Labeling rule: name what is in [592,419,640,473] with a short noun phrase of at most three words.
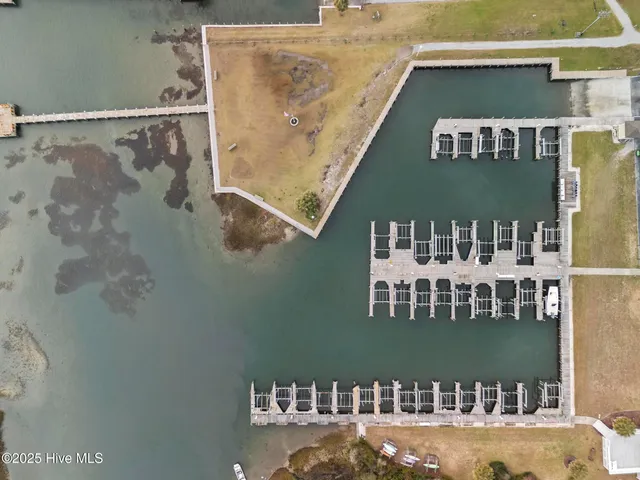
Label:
building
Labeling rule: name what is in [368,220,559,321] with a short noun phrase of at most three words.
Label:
pier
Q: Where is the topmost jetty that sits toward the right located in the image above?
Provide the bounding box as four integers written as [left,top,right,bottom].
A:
[428,116,634,161]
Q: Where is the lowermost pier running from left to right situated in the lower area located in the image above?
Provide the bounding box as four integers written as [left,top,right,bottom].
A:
[250,378,559,426]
